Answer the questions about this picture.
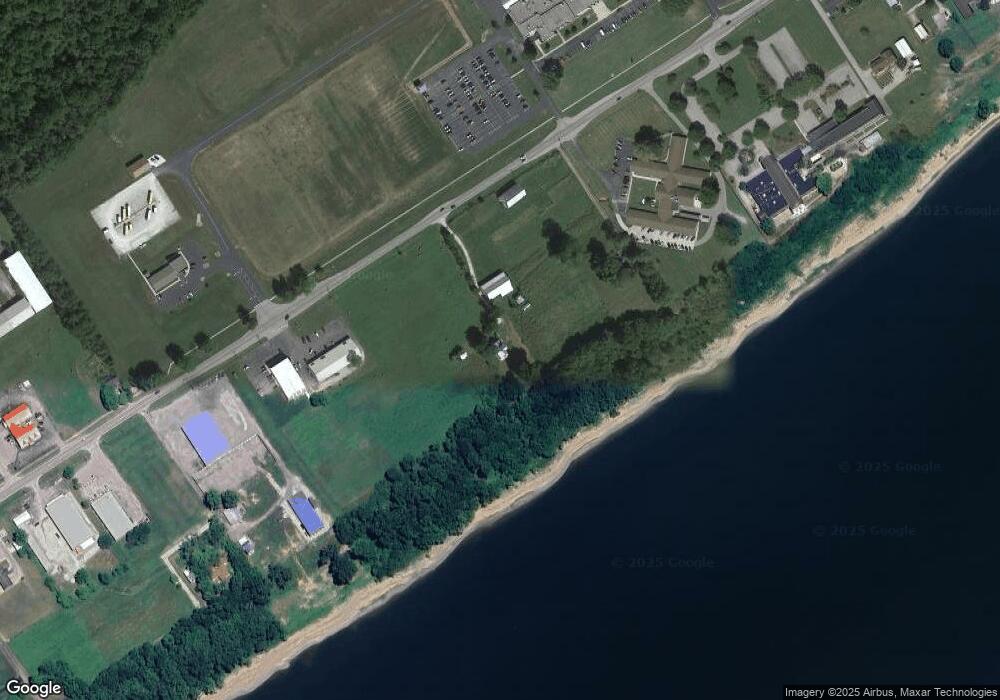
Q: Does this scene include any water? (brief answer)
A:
Yes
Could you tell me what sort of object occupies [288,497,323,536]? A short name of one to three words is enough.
house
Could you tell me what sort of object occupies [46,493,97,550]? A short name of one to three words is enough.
building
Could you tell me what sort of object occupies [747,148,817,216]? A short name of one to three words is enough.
building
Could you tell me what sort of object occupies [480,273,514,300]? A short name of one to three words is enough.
barn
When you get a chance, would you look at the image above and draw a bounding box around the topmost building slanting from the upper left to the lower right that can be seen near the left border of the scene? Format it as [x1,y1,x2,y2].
[3,251,52,312]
